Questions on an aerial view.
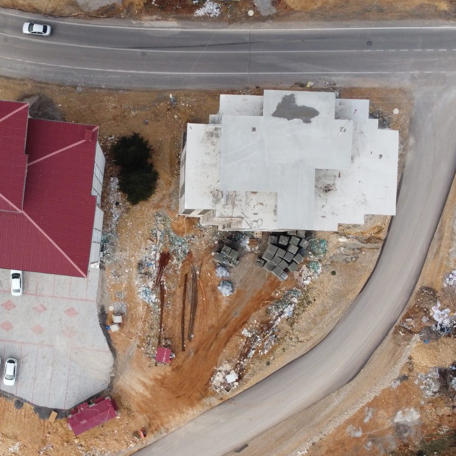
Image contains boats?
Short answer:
No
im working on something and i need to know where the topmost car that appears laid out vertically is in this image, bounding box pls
[11,268,24,295]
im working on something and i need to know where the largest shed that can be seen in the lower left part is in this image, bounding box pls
[67,393,121,435]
